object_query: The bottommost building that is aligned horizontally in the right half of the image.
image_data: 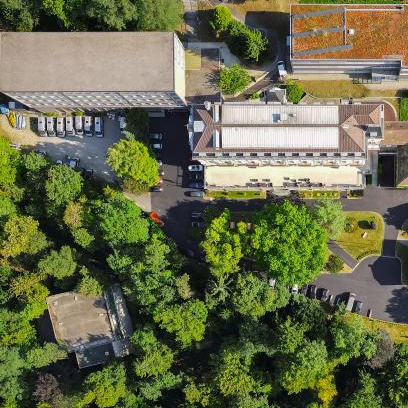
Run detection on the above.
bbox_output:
[190,102,385,197]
